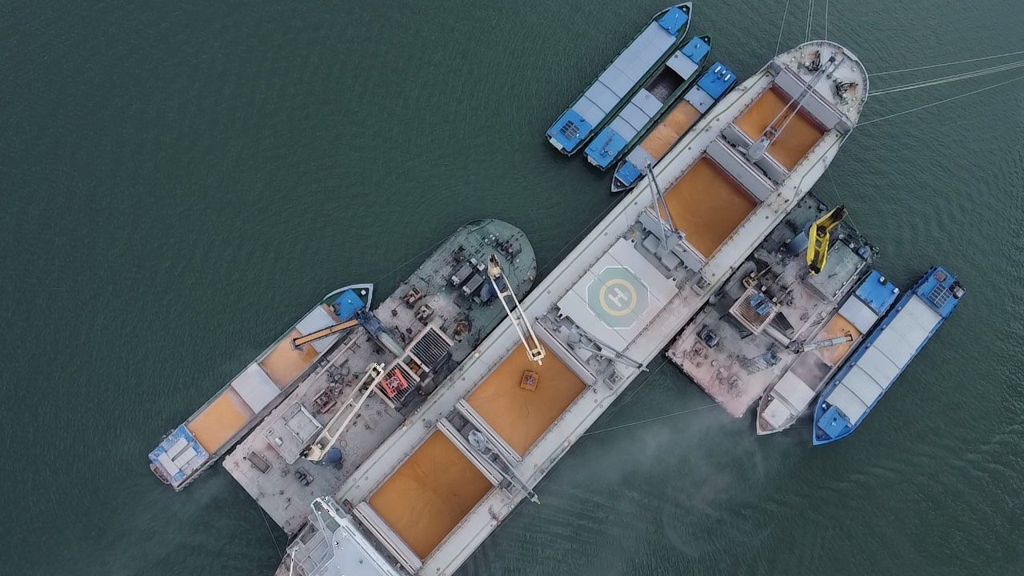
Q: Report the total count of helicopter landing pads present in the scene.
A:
one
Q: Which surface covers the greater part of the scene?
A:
water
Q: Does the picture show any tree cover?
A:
No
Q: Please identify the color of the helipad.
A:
white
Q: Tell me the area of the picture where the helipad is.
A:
center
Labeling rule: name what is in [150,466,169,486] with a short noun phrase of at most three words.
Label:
boat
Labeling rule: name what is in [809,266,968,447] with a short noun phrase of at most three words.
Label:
boat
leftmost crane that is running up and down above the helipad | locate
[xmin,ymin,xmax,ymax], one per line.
[645,161,685,258]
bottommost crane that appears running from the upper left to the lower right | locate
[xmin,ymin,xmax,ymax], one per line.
[467,431,539,503]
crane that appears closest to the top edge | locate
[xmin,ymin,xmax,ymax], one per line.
[742,58,843,167]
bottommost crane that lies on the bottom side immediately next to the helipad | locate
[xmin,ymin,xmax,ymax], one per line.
[563,327,649,373]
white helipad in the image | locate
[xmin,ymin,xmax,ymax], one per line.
[581,258,658,334]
